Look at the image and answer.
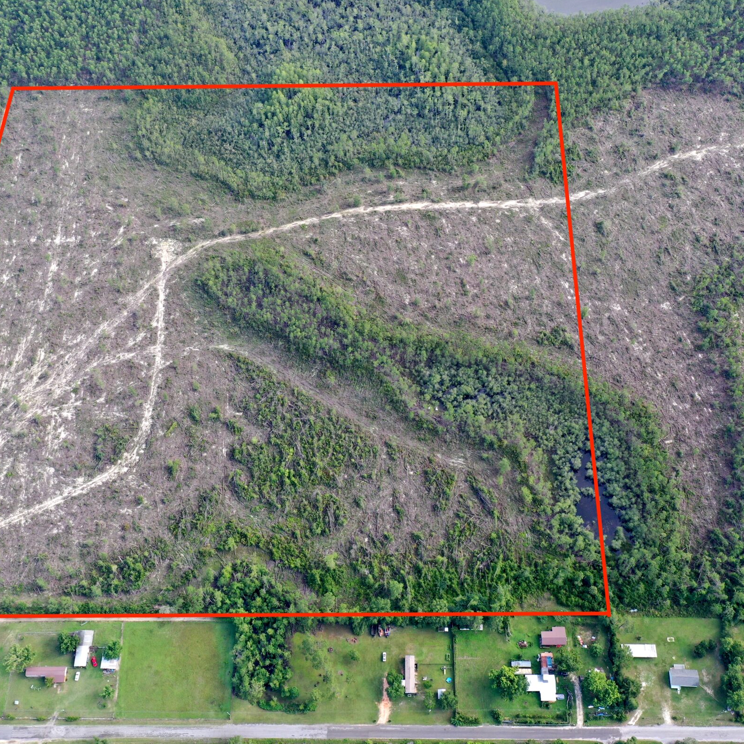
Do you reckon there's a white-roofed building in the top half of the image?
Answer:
No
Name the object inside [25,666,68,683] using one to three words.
house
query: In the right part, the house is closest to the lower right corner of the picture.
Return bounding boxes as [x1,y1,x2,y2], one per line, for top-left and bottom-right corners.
[669,664,701,693]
